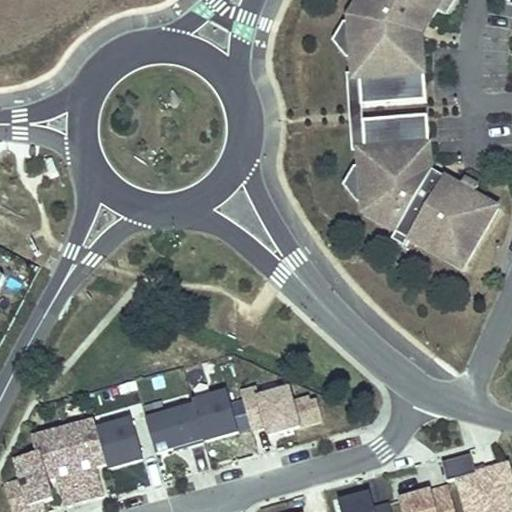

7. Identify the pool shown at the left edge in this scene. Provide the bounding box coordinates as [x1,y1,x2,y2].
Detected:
[4,277,22,292]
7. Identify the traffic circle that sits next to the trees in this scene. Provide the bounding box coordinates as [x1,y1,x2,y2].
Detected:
[30,0,281,259]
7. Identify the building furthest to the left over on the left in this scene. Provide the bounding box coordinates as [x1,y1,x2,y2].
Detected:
[3,450,52,512]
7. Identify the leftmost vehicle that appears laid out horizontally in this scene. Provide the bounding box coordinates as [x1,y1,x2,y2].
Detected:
[122,496,144,508]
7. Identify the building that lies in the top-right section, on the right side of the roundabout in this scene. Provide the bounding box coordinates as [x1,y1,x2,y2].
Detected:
[332,0,501,272]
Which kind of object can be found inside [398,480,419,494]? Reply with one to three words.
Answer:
vehicle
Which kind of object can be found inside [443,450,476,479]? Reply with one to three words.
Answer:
building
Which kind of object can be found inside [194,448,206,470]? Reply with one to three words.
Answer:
vehicle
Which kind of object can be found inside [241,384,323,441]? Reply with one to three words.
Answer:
house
